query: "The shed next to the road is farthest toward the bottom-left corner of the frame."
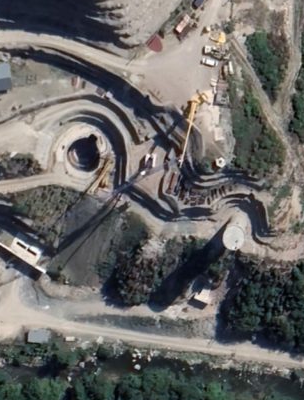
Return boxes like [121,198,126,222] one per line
[27,328,50,345]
